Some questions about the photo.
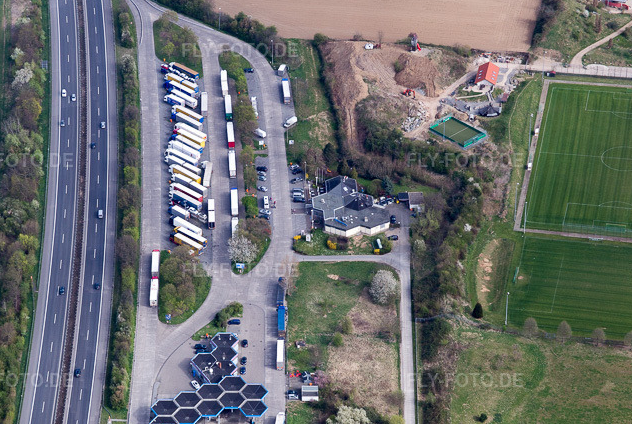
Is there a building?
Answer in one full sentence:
Yes, this view includes a building.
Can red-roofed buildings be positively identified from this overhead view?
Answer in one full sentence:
Yes, there's a red-roofed building here.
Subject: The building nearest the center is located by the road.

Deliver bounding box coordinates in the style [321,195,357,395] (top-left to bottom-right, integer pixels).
[312,176,389,237]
